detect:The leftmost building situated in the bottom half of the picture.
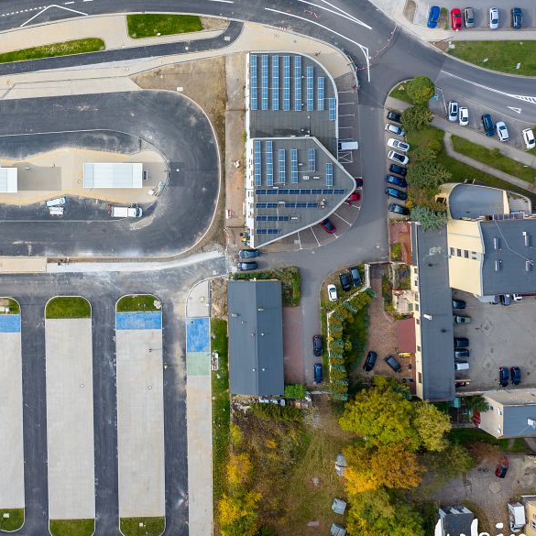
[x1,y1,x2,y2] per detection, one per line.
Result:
[224,278,285,397]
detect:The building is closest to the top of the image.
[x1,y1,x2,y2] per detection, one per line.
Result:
[242,52,339,160]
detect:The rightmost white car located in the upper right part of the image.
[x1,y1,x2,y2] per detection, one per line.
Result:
[521,128,535,149]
